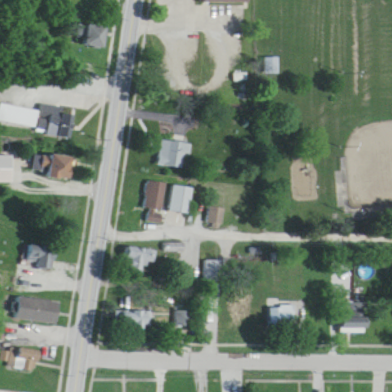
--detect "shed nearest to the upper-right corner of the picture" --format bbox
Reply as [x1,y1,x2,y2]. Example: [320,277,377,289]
[261,56,280,76]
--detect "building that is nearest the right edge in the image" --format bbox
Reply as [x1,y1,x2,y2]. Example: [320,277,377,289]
[337,302,372,334]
